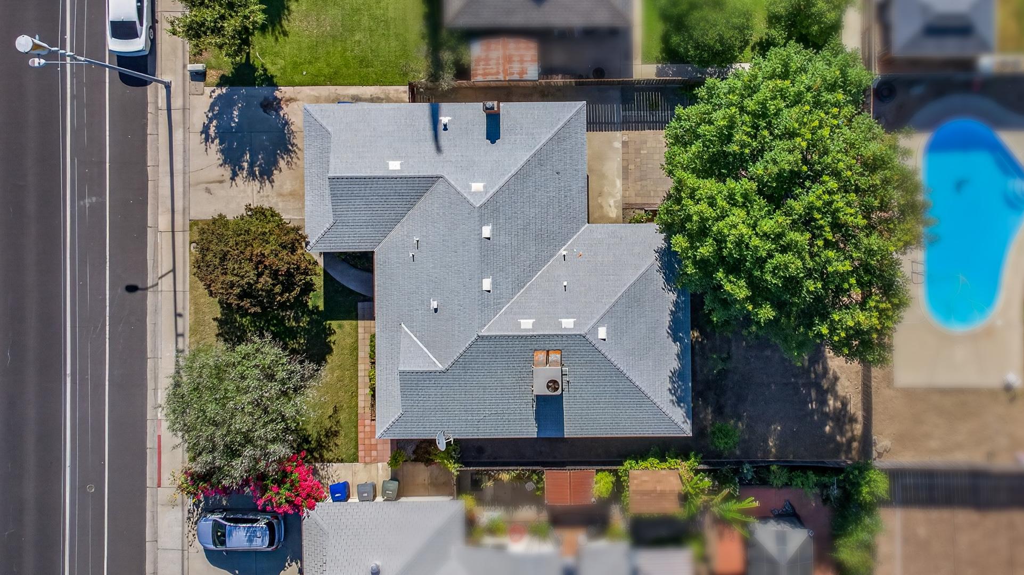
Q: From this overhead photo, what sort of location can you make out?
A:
residential area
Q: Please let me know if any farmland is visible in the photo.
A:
No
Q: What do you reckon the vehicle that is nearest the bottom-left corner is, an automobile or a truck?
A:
automobile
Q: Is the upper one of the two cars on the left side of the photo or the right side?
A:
left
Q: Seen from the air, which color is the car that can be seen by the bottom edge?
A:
blue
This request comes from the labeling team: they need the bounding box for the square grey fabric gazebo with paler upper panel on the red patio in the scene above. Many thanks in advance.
[737,506,813,575]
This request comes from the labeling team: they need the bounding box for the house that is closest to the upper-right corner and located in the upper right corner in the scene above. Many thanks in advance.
[878,0,997,58]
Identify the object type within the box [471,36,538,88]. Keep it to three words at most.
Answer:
shed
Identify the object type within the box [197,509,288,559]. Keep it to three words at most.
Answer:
car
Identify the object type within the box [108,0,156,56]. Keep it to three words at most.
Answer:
car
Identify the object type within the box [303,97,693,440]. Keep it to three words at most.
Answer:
house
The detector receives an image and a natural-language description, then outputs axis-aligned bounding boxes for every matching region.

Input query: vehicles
[108,0,156,56]
[197,509,288,559]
